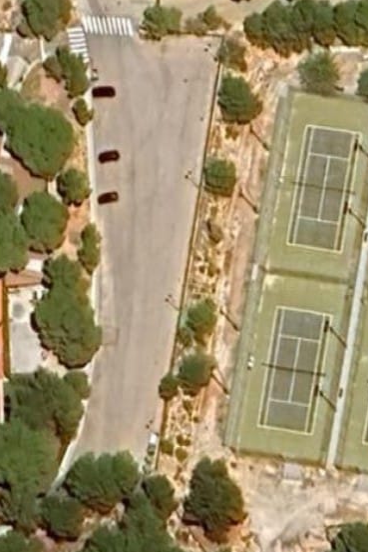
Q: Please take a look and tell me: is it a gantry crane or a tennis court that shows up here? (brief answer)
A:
tennis court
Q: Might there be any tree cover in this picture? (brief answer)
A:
Yes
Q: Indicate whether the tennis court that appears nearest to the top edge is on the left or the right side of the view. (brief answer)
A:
right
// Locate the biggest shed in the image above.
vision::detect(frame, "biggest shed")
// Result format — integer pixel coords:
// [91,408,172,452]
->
[5,272,41,291]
